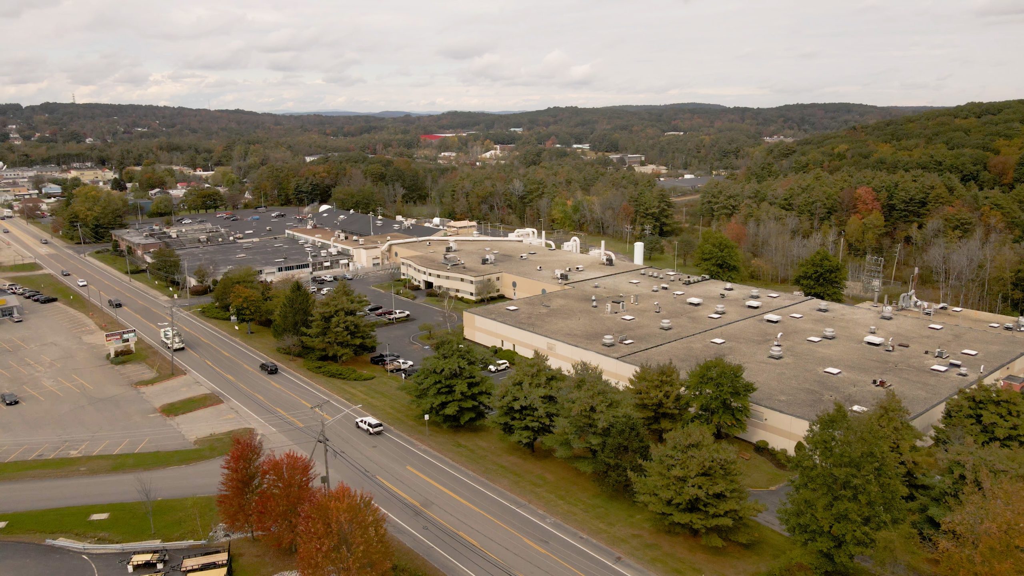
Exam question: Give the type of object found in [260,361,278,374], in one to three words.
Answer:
vehicle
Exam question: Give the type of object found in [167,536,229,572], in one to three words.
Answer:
trailer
